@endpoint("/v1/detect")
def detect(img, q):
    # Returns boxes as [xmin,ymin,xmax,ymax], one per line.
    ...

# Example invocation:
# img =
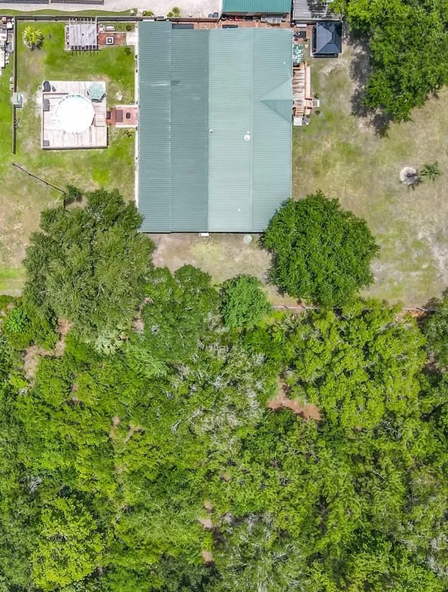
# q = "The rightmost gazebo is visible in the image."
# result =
[310,22,342,58]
